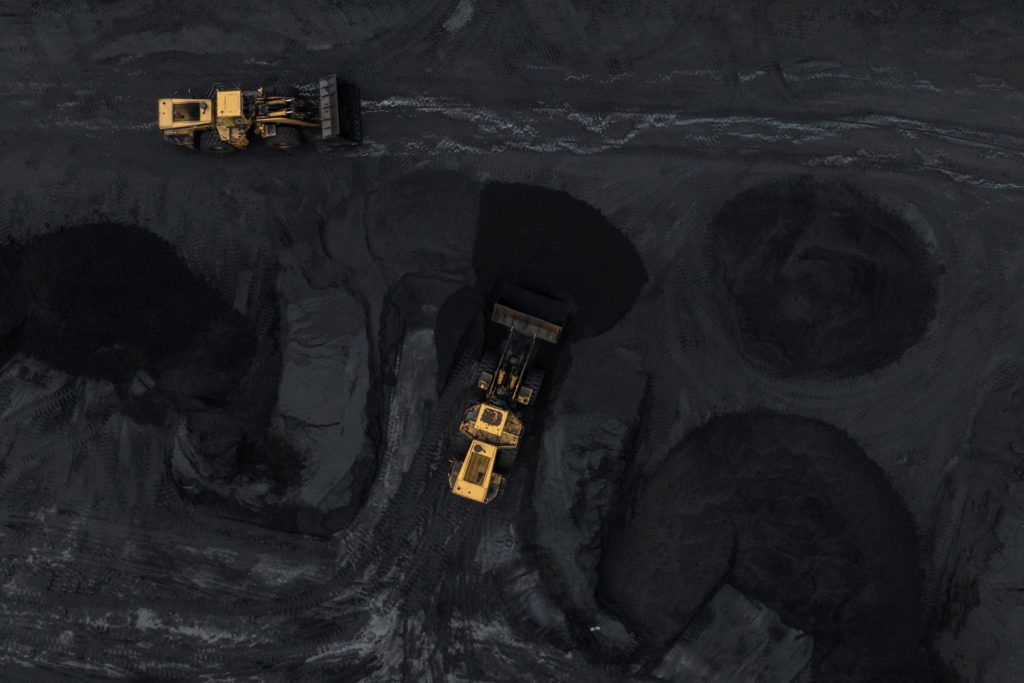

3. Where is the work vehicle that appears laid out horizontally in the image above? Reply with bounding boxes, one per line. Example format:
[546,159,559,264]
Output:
[158,74,364,151]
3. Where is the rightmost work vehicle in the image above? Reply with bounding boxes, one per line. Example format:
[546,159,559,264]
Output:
[445,291,563,503]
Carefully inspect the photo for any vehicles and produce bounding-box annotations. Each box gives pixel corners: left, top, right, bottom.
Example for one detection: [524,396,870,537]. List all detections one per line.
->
[158,74,364,151]
[445,291,563,503]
